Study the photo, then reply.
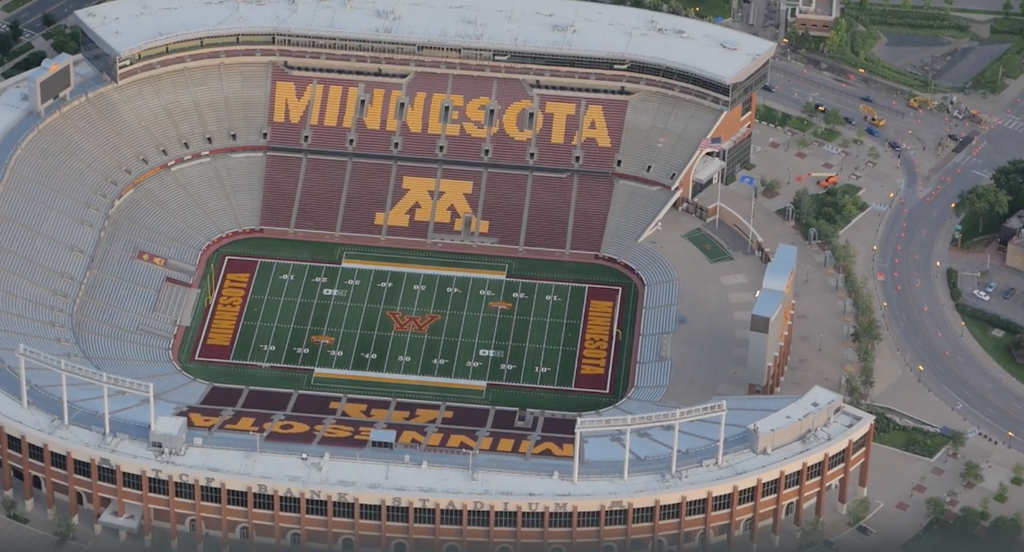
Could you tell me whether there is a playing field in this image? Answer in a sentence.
Yes, there is a playing field in the image.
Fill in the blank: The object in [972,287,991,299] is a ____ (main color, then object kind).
white vehicle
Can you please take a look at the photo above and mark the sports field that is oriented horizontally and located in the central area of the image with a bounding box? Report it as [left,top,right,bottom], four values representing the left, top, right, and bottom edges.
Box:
[178,238,637,414]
